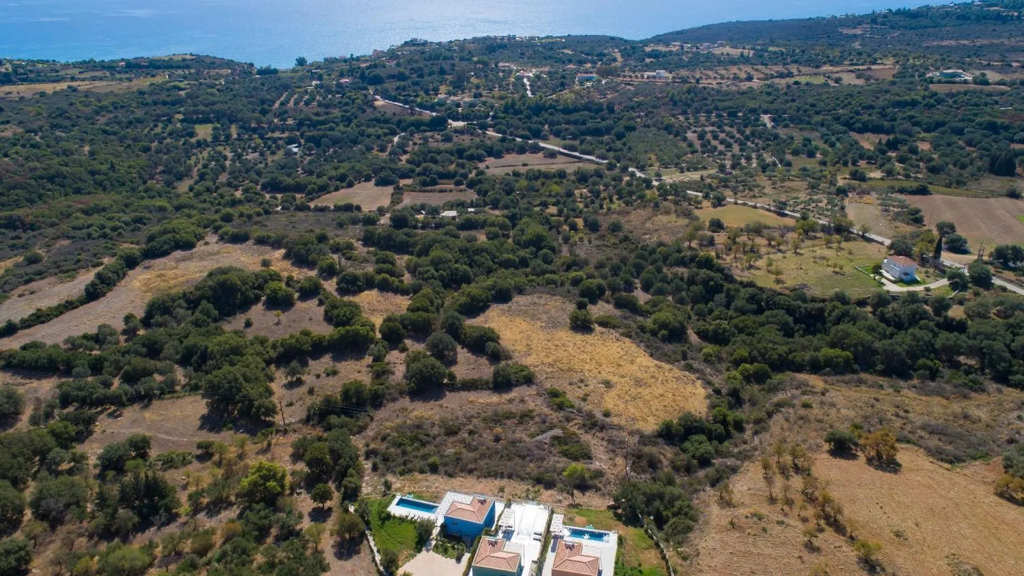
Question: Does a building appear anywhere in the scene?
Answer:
Yes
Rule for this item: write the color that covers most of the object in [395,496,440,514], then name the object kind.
blue swimming pool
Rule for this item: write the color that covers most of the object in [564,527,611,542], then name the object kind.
blue swimming pool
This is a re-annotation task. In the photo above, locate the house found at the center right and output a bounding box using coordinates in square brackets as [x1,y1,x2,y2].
[882,256,923,286]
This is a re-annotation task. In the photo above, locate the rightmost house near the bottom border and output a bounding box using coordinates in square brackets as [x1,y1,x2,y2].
[550,536,599,576]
